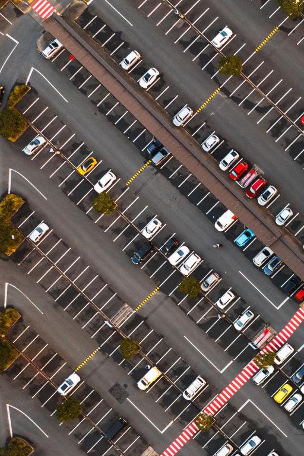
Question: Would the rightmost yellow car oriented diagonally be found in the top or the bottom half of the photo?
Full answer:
The rightmost yellow car oriented diagonally sits in the bottom half of the picture.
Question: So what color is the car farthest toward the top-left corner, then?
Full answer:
The color of the car farthest toward the top-left corner is white.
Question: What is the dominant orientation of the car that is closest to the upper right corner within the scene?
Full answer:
What the image shows is the car that is closest to the upper right corner lying on a diagonal.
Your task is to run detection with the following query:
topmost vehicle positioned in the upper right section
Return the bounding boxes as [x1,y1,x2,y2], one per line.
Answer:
[215,25,236,45]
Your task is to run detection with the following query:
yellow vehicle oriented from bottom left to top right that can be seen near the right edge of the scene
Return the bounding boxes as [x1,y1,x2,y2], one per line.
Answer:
[274,382,296,403]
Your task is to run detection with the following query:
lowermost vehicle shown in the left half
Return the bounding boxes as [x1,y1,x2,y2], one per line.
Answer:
[107,417,128,438]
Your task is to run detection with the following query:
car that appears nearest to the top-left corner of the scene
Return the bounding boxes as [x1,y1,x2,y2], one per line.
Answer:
[43,39,63,59]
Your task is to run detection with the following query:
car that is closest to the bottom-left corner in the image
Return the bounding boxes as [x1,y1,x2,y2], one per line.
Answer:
[59,373,82,393]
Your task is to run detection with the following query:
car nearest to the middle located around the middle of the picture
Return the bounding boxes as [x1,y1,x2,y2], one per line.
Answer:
[141,218,163,239]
